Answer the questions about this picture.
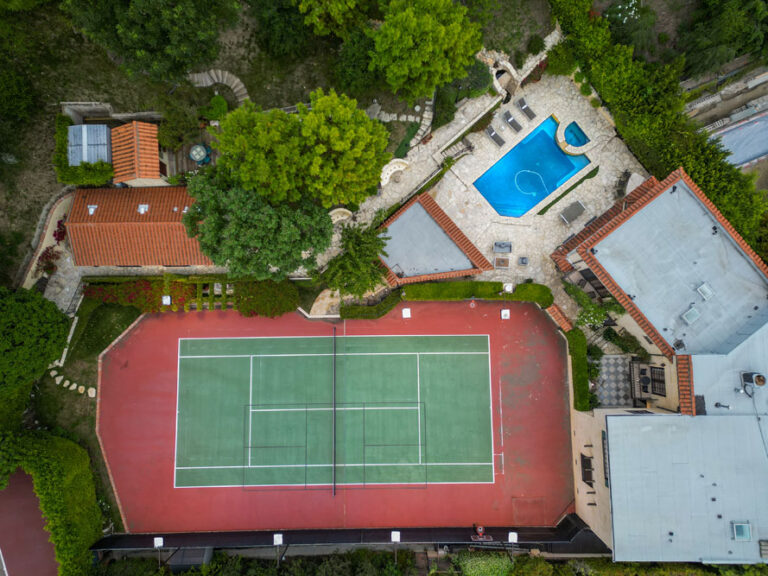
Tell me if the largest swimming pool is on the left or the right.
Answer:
right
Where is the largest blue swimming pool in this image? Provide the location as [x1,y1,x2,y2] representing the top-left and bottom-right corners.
[470,111,596,224]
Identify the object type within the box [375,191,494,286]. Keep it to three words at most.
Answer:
building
